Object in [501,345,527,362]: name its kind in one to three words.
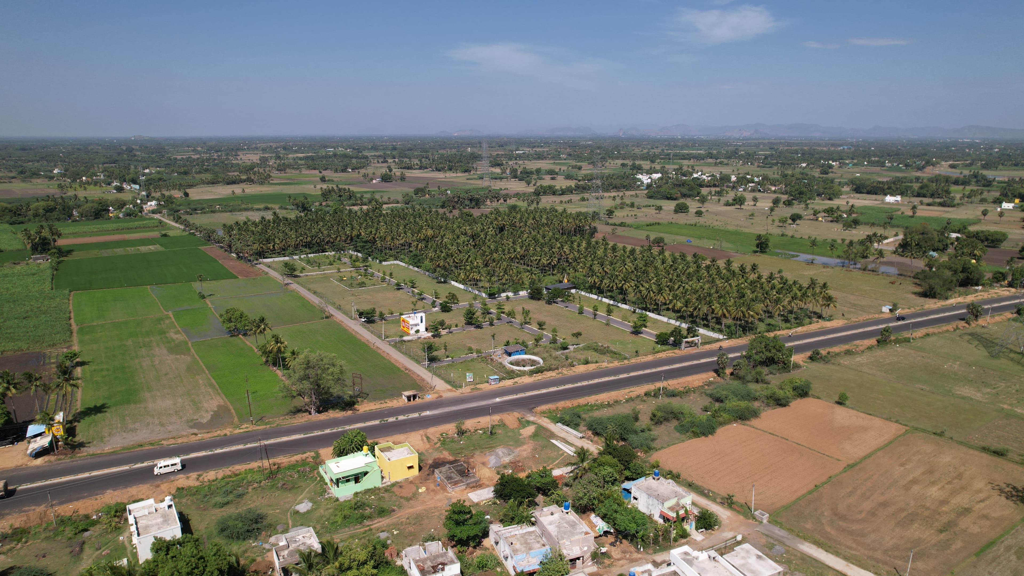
shed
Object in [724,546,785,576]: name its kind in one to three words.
house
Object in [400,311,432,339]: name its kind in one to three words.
house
